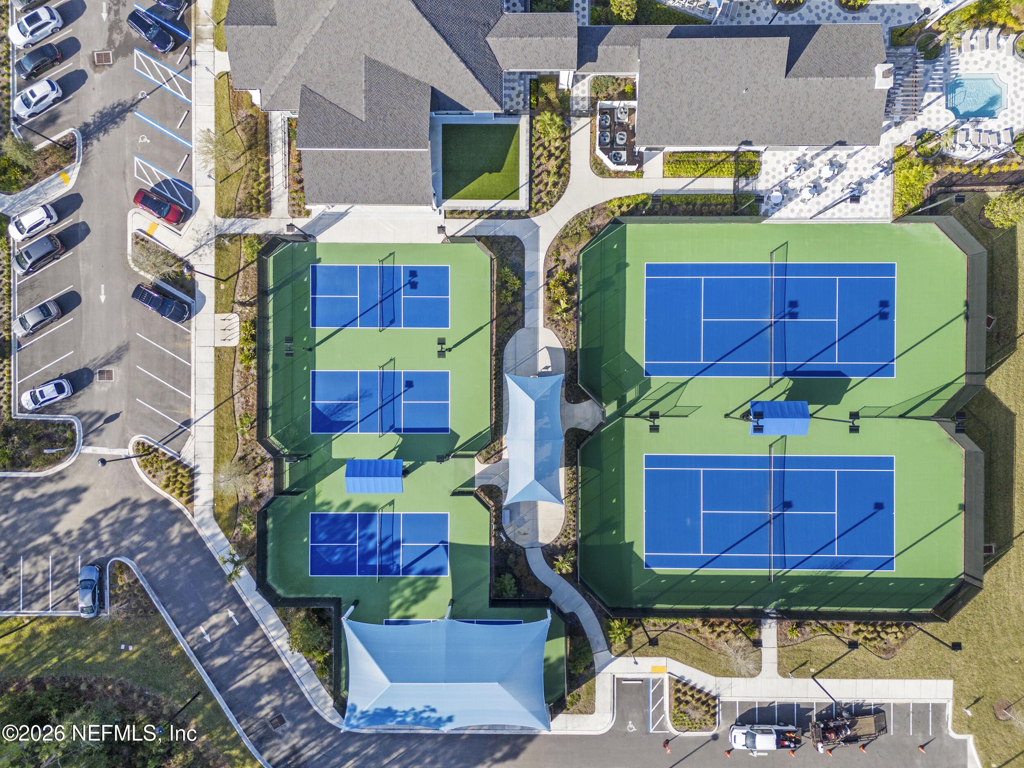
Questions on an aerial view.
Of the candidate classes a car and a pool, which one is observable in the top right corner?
pool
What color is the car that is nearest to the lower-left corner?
blue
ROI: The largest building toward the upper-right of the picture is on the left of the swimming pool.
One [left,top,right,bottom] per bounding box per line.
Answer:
[635,24,892,156]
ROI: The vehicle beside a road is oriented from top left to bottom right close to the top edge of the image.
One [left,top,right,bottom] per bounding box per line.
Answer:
[124,7,176,55]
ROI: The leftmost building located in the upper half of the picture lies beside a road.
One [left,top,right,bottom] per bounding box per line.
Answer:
[224,0,504,215]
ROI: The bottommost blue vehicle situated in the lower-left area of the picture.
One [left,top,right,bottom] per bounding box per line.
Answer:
[76,564,103,617]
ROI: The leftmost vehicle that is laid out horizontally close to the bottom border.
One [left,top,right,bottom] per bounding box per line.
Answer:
[730,722,804,755]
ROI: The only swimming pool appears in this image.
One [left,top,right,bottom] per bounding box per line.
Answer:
[943,69,1012,121]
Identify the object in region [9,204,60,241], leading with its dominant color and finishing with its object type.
white car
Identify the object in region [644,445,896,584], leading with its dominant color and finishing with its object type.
blue tennis court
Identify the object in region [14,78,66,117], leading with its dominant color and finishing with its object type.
white car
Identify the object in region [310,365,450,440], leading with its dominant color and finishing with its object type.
blue sports court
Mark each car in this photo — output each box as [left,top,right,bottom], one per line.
[15,42,65,80]
[14,78,66,117]
[129,283,191,325]
[76,564,103,617]
[20,379,75,410]
[9,204,60,241]
[132,187,186,227]
[13,299,65,336]
[10,6,64,48]
[5,0,51,15]
[151,0,187,16]
[12,233,67,274]
[124,7,176,55]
